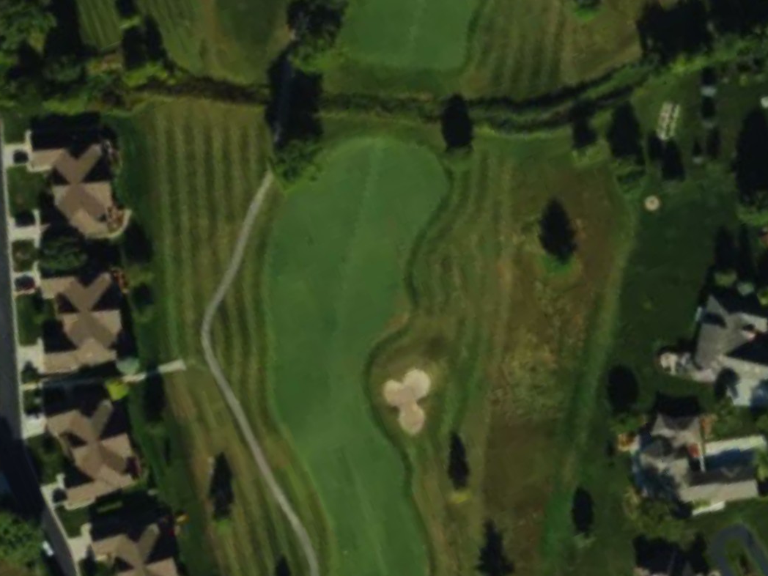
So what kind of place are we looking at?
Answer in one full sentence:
This looks like a golf course.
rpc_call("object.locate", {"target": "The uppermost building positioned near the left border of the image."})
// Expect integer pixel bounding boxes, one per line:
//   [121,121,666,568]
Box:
[29,128,111,243]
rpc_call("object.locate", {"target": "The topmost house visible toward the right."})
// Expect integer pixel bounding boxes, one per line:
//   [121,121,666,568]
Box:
[694,287,768,382]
